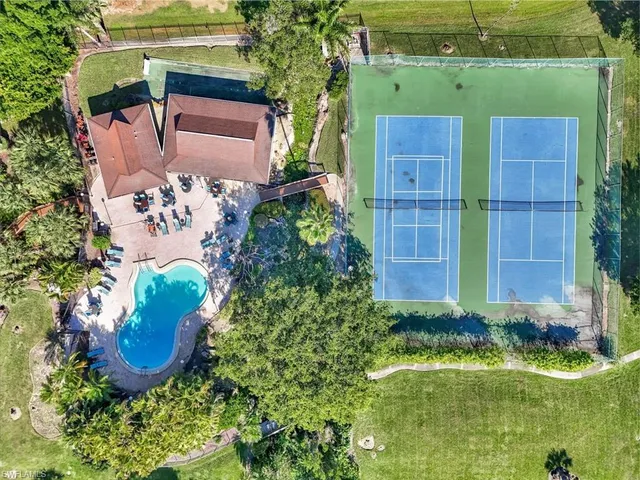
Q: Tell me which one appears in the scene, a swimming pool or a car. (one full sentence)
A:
It is a swimming pool that can be seen here.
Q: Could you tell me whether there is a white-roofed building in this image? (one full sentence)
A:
No, no white-roofed building is visible in the scene.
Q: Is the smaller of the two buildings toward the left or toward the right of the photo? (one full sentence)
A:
The smaller of the two buildings sits on the left side.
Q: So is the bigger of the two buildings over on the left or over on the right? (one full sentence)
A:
The bigger of the two buildings is on the left side of the image.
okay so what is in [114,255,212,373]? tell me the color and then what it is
blue swimming pool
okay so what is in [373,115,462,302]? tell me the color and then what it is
blue tennis court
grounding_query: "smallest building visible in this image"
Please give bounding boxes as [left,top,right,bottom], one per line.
[89,102,170,199]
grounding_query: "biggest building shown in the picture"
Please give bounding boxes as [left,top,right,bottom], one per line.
[164,92,278,184]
